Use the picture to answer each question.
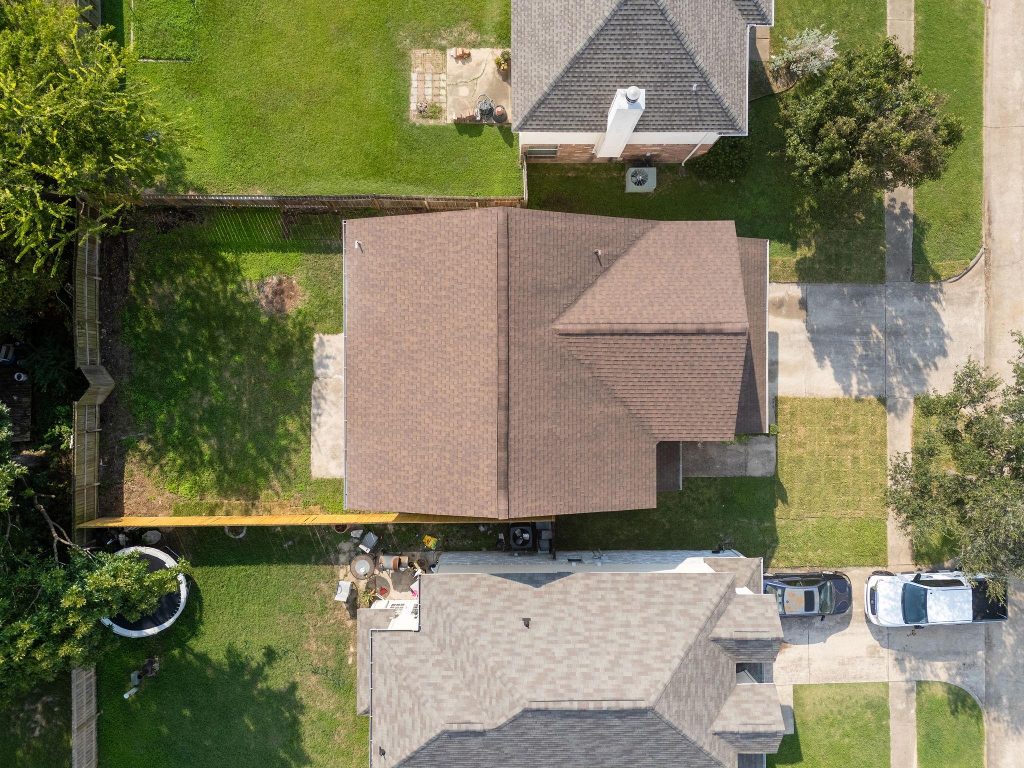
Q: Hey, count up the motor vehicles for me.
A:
two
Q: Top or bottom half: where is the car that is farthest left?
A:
bottom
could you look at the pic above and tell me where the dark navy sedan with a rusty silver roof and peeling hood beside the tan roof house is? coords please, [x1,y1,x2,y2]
[764,573,854,621]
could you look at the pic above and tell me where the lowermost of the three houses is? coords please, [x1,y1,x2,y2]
[355,546,786,768]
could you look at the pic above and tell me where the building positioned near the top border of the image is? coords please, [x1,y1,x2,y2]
[509,0,777,172]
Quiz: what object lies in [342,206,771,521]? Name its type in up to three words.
house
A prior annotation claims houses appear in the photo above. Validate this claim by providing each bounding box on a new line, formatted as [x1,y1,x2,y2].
[342,206,771,521]
[509,0,777,172]
[355,546,786,768]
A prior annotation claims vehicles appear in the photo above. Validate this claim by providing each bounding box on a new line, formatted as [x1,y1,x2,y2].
[862,574,1005,634]
[764,573,854,621]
